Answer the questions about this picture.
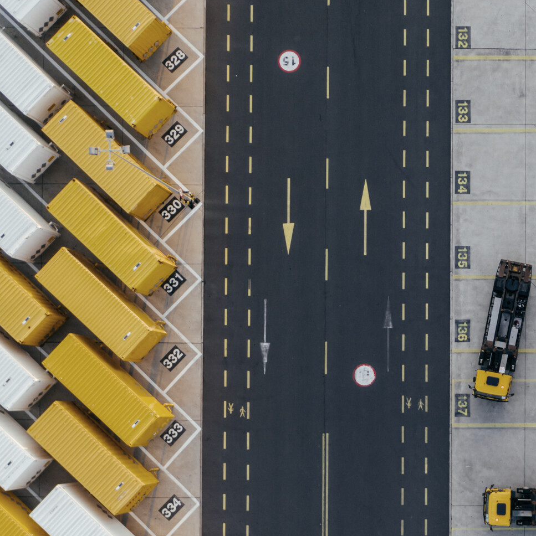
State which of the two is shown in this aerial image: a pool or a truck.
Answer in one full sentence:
The one in the frame is a truck.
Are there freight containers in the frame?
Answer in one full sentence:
Yes, the picture does show a freight container.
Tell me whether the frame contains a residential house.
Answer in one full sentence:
No, there's no residential house here.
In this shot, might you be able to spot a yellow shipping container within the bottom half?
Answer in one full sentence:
Yes, you'll find a yellow shipping container within the bottom half.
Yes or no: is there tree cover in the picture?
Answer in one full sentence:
No, no tree cover is visible.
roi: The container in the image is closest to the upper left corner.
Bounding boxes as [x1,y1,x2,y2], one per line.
[0,0,66,37]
